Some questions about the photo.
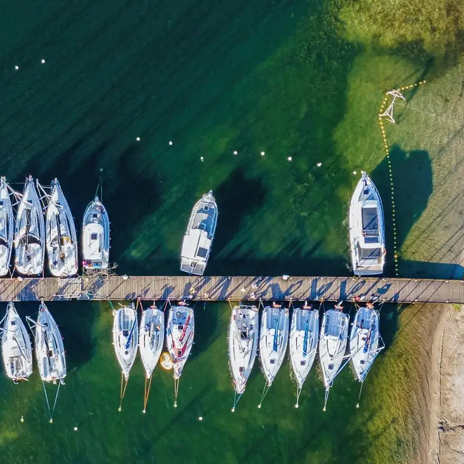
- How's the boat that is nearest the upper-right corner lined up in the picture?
vertically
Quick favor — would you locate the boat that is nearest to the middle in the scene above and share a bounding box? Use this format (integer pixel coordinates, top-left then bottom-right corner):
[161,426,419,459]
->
[180,189,220,275]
